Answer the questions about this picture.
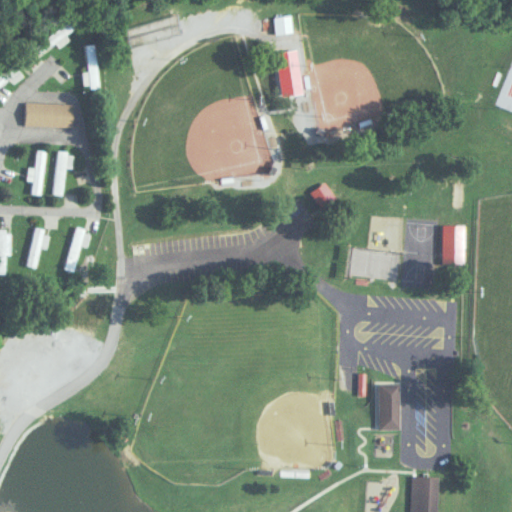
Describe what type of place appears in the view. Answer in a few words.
sports ground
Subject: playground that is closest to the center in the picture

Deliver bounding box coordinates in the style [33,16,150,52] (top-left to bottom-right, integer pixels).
[368,216,404,253]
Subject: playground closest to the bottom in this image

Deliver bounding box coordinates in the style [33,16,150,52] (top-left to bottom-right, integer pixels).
[366,474,399,512]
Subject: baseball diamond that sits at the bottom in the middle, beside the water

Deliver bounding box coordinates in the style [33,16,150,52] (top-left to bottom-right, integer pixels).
[131,282,339,486]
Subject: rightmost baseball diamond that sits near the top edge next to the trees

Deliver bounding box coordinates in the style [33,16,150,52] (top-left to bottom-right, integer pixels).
[298,13,444,133]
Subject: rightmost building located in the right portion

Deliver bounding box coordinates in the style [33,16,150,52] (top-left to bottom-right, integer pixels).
[442,225,467,266]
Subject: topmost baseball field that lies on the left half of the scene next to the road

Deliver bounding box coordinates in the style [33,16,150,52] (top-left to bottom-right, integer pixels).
[132,36,273,192]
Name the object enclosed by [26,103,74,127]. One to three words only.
building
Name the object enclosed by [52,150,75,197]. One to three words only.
house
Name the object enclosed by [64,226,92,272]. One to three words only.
house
